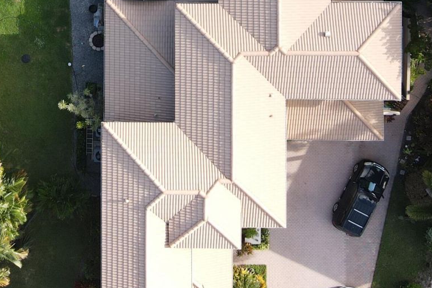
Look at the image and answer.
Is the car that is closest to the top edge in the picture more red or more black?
black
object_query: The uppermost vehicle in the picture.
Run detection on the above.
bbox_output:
[334,157,389,243]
